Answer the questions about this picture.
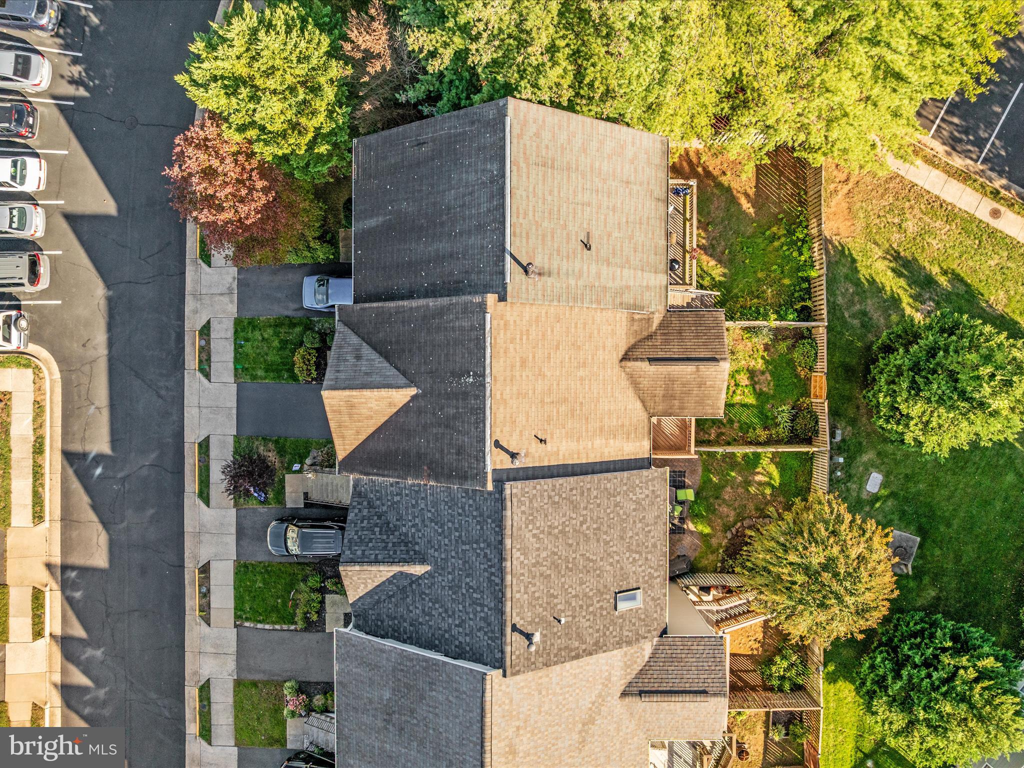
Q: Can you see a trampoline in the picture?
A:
No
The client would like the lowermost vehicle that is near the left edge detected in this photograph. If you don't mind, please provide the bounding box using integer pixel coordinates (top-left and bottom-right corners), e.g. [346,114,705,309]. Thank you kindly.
[0,313,30,348]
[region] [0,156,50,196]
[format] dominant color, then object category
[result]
white car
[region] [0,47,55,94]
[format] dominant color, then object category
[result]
white car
